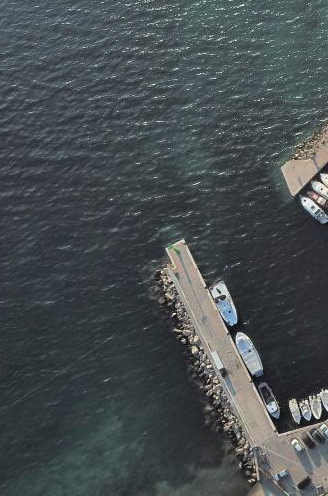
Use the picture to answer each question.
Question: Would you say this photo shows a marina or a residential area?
marina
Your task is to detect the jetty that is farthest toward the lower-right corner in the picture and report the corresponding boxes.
[166,240,279,451]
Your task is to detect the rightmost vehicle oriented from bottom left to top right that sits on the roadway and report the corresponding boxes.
[295,474,313,490]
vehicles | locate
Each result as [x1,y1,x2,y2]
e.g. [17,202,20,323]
[295,474,313,490]
[271,466,291,481]
[320,422,328,439]
[310,426,324,445]
[302,431,316,450]
[291,436,303,453]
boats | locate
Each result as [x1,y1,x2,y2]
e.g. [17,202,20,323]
[317,168,328,187]
[289,398,300,426]
[256,382,278,418]
[208,282,235,327]
[301,399,311,423]
[237,333,264,379]
[307,179,328,202]
[306,188,328,212]
[298,195,328,226]
[310,395,321,420]
[322,388,328,410]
